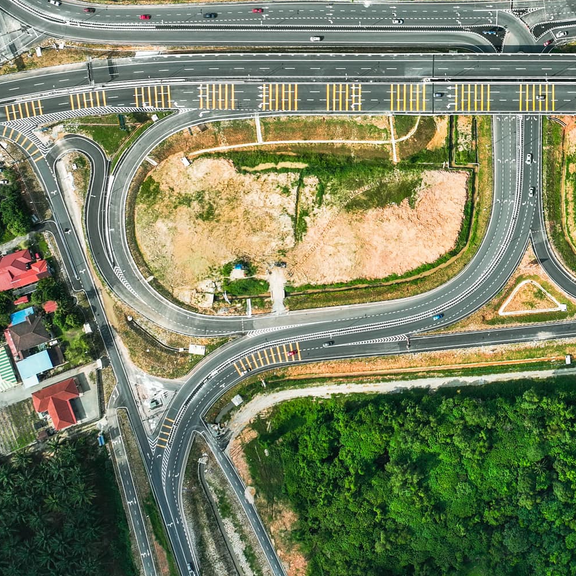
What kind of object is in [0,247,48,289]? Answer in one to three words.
house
